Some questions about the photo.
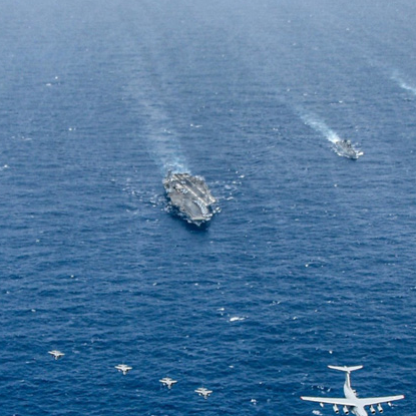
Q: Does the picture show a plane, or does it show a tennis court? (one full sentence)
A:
The image shows a plane.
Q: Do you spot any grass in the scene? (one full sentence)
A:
No, the picture contains no grass.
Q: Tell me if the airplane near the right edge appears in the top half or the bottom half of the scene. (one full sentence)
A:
The airplane near the right edge is in the bottom half of the image.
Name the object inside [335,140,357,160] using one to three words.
ship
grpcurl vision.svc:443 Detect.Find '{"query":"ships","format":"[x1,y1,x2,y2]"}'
[335,140,357,160]
[166,171,216,225]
